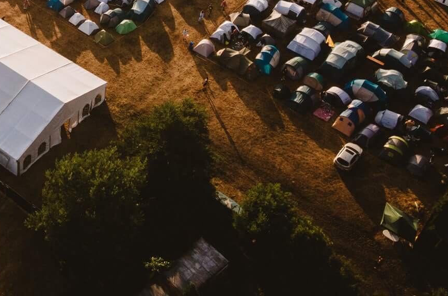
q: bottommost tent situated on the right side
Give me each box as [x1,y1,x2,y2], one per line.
[402,156,433,177]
